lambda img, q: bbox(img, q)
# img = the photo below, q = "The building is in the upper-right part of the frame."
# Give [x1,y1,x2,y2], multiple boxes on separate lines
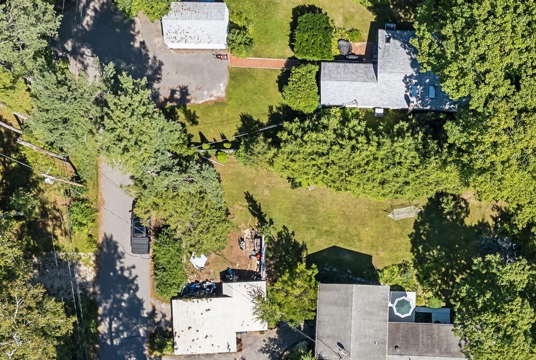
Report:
[319,22,467,118]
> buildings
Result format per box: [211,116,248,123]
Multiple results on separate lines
[315,284,481,360]
[162,1,229,49]
[319,22,467,118]
[173,282,269,356]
